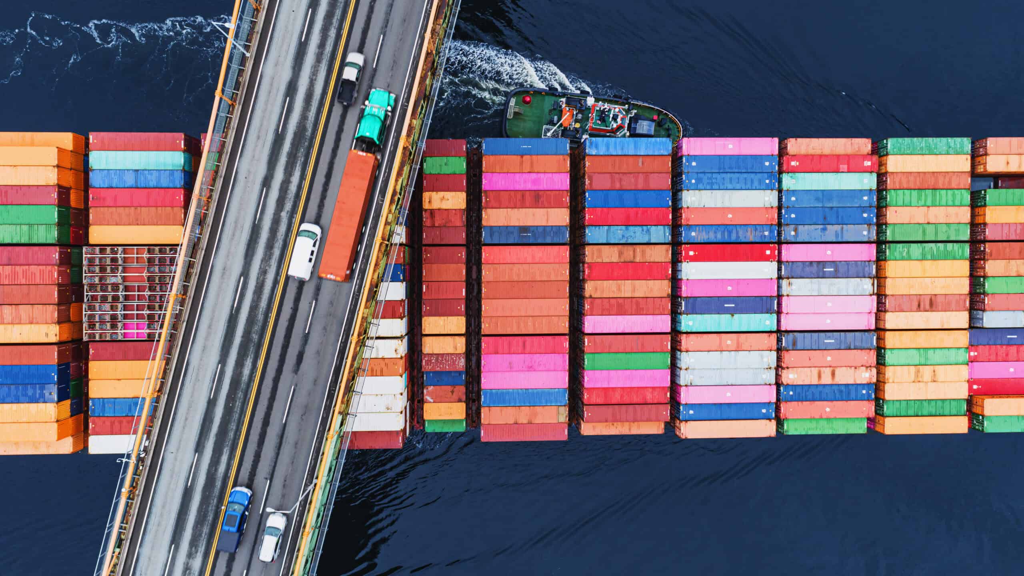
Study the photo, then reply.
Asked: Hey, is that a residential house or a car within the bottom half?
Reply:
car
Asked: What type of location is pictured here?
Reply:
port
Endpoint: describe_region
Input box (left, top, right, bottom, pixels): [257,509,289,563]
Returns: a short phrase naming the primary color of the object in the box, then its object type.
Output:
white car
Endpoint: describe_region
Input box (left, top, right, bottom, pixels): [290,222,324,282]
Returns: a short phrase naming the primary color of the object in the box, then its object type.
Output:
white van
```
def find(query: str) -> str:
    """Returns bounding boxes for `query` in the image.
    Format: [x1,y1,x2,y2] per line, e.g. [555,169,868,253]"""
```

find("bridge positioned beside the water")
[97,0,460,576]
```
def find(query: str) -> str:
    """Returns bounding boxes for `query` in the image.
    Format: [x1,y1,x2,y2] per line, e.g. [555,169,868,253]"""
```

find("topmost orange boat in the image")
[561,108,574,127]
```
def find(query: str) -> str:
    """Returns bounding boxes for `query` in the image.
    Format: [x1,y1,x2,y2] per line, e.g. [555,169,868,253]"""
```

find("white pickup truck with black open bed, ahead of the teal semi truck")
[335,51,367,109]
